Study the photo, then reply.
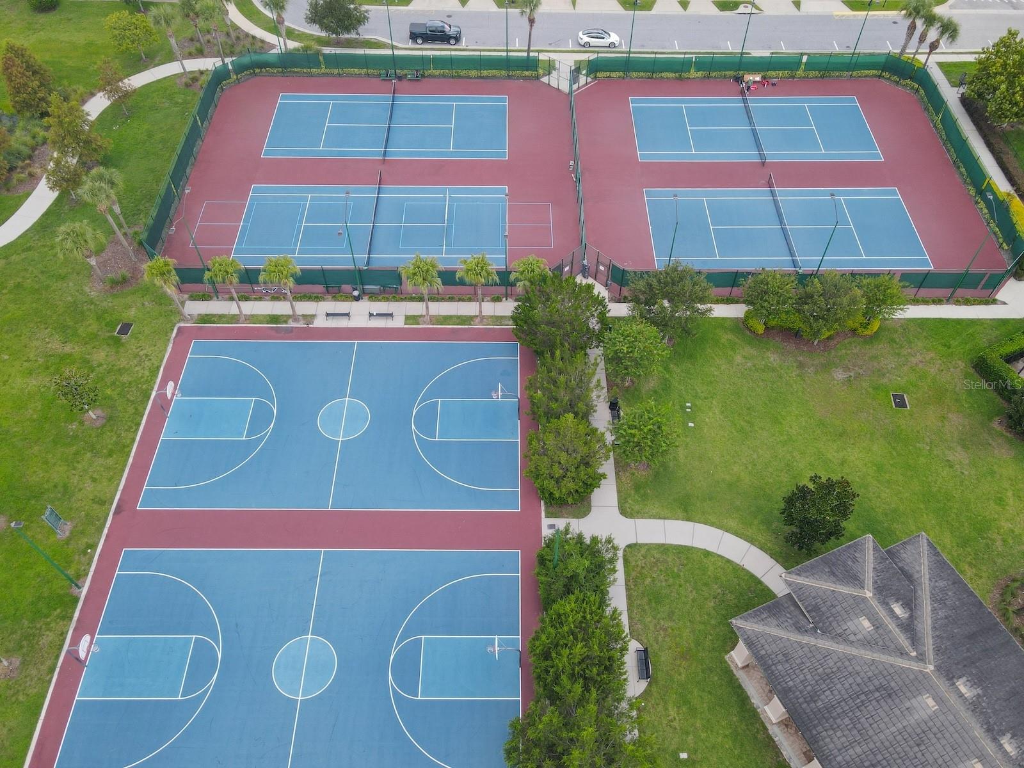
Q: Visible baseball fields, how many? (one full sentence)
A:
The picture shows no baseball fields.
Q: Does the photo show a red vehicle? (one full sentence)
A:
No, I can see no red vehicle in this picture.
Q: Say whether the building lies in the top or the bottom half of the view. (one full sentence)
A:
It is in the bottom half that the building appears.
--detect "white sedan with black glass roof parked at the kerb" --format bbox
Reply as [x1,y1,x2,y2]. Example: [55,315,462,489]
[578,28,620,47]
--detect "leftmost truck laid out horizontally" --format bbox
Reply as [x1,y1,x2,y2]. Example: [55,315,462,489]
[408,21,462,44]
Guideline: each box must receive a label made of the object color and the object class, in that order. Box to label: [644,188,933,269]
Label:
blue tennis court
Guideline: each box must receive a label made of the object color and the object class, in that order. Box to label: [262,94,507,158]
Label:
blue tennis court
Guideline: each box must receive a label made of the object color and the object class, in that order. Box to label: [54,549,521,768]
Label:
blue basketball court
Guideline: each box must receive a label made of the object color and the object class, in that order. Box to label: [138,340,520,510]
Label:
blue basketball court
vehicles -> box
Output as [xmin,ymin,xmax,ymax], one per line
[408,21,462,44]
[578,28,620,47]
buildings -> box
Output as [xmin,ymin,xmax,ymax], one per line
[724,532,1024,768]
